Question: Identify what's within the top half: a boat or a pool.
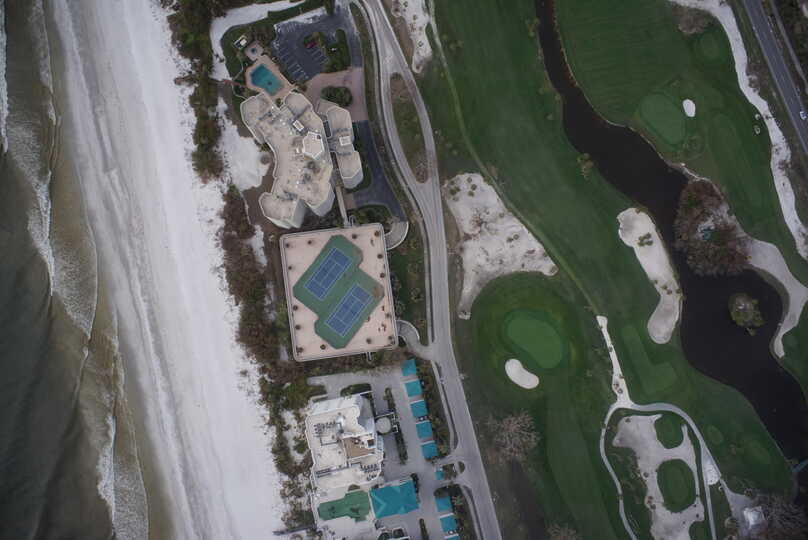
pool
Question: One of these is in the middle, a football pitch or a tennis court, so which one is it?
tennis court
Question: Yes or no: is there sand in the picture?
Yes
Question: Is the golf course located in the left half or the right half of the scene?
right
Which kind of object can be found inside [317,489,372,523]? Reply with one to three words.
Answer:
swimming pool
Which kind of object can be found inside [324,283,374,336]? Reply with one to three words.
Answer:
tennis court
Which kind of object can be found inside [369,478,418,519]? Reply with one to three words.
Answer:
building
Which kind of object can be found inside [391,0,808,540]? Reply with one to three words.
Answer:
golf course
